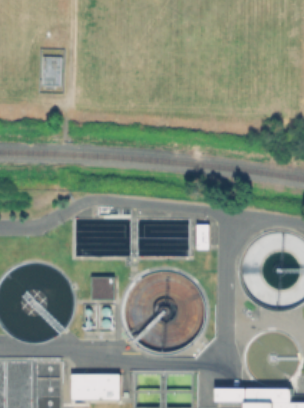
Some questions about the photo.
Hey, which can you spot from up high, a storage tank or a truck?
storage tank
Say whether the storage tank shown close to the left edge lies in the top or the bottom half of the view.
bottom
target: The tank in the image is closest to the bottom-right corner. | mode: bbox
[244,328,304,388]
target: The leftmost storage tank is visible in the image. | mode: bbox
[0,262,78,344]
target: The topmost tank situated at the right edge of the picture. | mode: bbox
[240,230,304,310]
